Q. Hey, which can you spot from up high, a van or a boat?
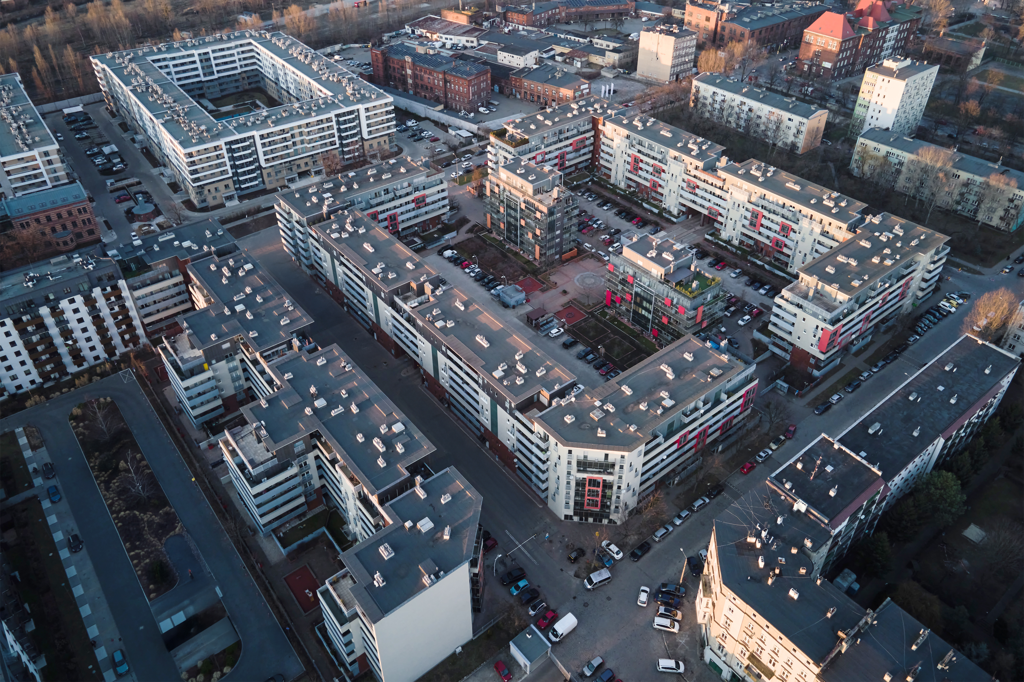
van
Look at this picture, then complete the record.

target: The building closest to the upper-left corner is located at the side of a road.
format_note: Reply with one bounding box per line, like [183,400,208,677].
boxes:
[0,72,68,192]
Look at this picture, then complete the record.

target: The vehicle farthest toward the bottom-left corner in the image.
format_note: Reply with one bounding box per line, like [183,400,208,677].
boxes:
[112,650,131,677]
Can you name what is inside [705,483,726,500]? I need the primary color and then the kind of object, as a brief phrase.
black car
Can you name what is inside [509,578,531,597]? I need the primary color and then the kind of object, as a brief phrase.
blue car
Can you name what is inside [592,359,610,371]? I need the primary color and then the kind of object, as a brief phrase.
black vehicle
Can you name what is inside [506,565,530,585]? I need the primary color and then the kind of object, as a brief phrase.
black car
